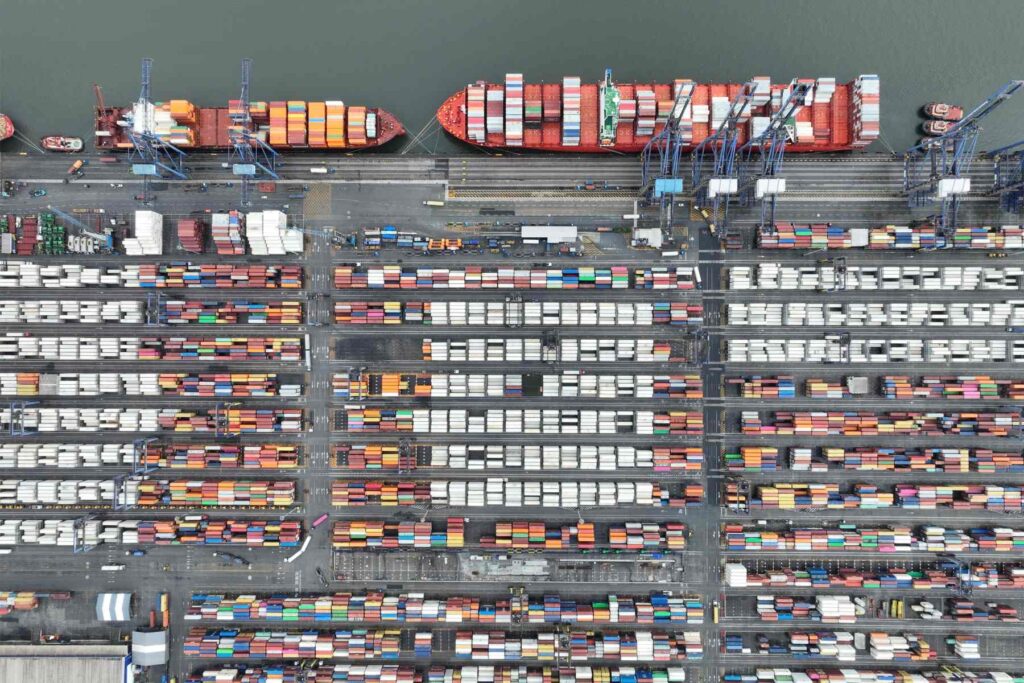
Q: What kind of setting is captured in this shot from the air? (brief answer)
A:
port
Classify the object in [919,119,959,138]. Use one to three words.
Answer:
boat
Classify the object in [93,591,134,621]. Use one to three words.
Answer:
tent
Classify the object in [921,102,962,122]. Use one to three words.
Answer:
boat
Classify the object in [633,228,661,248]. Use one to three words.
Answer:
building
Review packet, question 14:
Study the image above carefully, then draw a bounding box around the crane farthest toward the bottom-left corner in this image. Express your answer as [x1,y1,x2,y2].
[72,512,103,552]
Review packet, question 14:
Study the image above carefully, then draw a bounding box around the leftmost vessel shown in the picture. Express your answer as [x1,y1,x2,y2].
[0,115,22,143]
